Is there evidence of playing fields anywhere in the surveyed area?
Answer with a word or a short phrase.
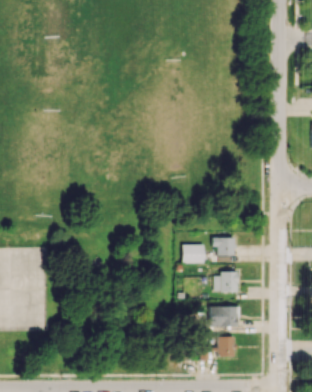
Yes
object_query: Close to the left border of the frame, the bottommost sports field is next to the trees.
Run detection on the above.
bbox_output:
[12,110,73,217]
